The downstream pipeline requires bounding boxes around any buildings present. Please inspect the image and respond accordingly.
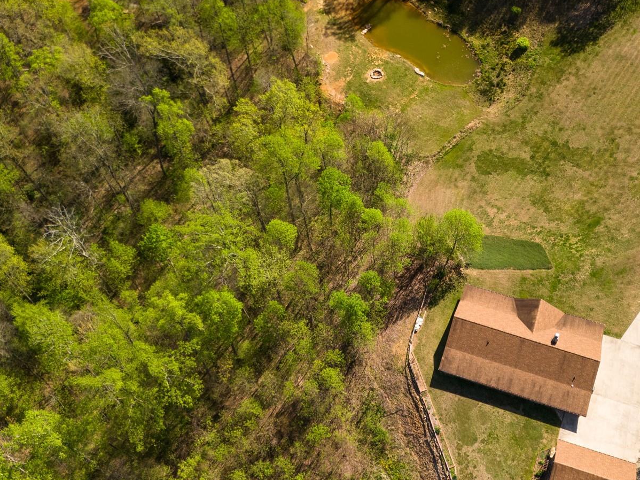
[438,284,604,418]
[549,439,637,480]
